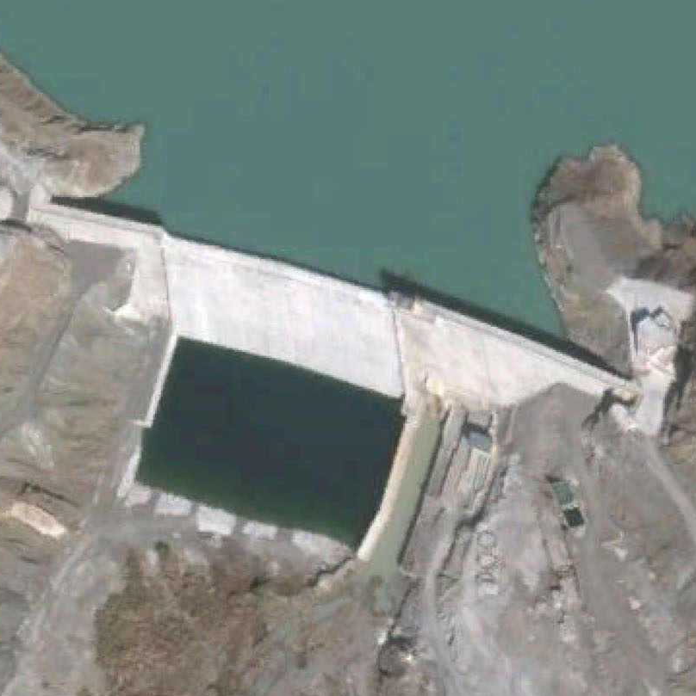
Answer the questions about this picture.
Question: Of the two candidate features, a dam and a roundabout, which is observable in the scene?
dam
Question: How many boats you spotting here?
none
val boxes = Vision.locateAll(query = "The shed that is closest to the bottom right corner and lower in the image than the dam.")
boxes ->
[564,509,586,536]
